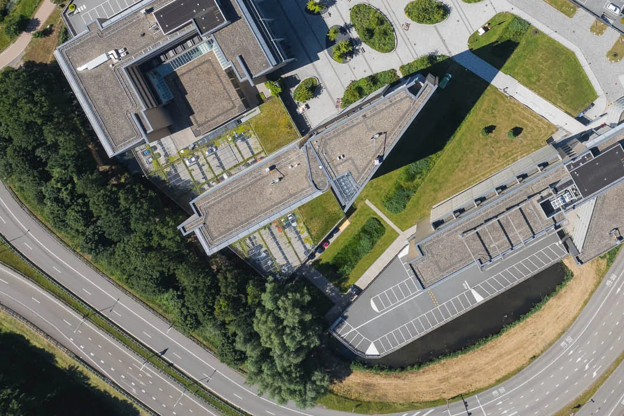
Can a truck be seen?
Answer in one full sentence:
No, the scene contains no truck.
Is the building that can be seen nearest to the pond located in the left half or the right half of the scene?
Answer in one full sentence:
The building that can be seen nearest to the pond appears in the right half of the scene.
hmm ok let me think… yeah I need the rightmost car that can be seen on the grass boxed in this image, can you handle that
[438,74,451,89]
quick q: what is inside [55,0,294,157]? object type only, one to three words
building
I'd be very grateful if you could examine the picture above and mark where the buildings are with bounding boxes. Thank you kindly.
[55,0,294,157]
[409,118,624,288]
[179,74,438,256]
